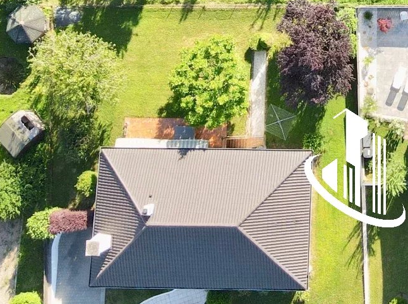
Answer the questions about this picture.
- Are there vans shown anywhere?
No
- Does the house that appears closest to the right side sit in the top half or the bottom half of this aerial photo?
bottom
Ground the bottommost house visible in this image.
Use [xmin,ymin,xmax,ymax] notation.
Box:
[83,146,315,293]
